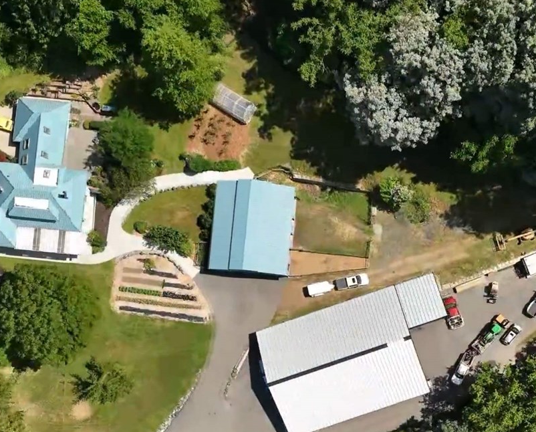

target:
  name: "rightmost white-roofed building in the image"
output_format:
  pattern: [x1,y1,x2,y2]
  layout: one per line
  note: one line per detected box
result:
[256,273,446,432]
